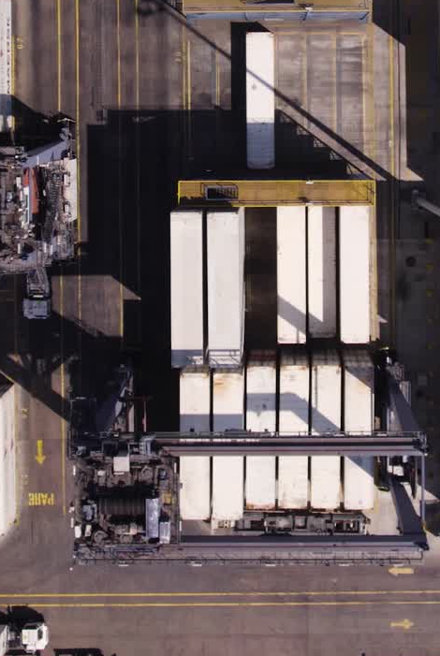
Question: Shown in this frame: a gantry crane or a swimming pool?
gantry crane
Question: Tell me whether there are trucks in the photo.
Yes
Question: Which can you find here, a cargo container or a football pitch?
cargo container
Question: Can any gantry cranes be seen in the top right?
No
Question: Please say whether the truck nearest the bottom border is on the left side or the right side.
left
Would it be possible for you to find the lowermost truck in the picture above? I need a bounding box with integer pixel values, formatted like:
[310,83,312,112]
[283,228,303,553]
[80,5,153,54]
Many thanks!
[0,615,47,655]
